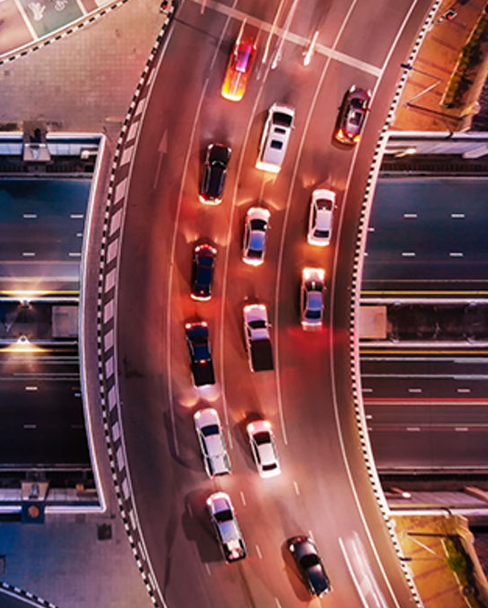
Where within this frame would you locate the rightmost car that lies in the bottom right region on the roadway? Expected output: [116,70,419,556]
[341,547,388,608]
